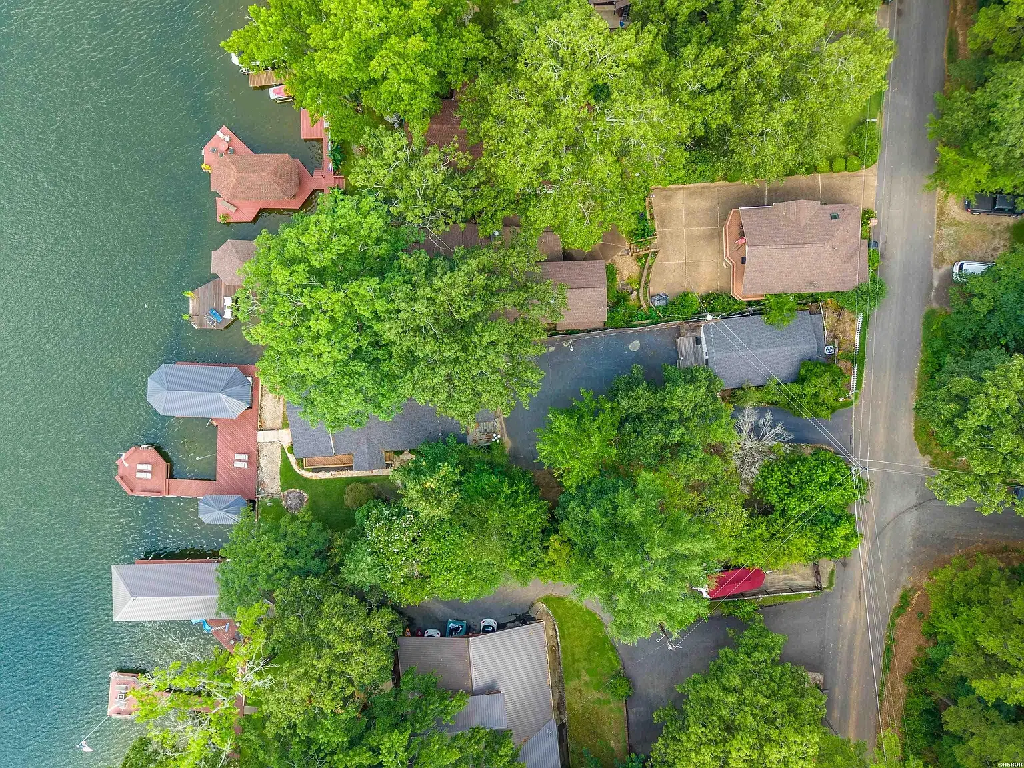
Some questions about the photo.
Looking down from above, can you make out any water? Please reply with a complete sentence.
Yes, there's water in this view.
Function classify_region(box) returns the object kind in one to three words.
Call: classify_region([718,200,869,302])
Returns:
house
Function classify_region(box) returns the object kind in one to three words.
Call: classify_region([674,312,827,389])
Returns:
house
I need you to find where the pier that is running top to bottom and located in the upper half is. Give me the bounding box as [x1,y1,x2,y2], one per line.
[301,109,339,194]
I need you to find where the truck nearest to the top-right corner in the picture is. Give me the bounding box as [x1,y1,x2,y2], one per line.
[968,188,1024,212]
